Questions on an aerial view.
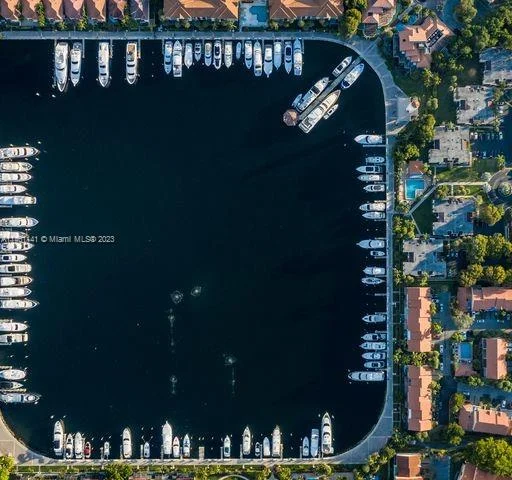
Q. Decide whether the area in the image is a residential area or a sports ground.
residential area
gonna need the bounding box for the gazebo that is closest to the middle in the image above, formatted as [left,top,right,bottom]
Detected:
[284,108,298,124]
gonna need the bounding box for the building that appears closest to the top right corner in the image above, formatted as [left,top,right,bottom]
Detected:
[475,46,512,88]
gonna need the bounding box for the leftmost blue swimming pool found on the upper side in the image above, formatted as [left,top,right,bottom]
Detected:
[252,6,267,22]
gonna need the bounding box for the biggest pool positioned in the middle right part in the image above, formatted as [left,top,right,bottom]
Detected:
[405,179,424,199]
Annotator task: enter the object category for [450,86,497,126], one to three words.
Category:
building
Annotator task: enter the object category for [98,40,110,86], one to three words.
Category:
boat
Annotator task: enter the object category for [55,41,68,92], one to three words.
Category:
boat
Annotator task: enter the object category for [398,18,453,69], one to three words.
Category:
house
